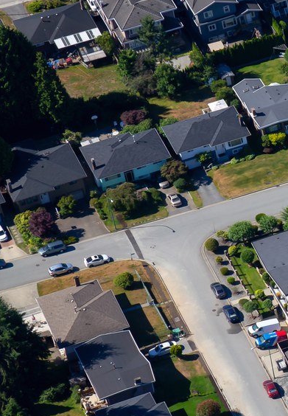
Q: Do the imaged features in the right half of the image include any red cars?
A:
Yes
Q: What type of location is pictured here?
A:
residential area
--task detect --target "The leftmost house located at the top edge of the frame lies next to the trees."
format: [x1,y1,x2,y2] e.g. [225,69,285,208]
[16,1,107,69]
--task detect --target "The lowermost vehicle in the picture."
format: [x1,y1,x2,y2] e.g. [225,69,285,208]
[263,379,281,400]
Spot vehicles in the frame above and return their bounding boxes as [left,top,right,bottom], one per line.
[167,191,183,210]
[263,379,281,400]
[222,305,240,324]
[0,222,9,243]
[249,313,281,338]
[156,177,172,194]
[147,342,173,358]
[46,264,75,279]
[210,281,227,301]
[0,258,10,267]
[85,0,99,10]
[256,325,288,349]
[83,254,112,268]
[37,237,68,258]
